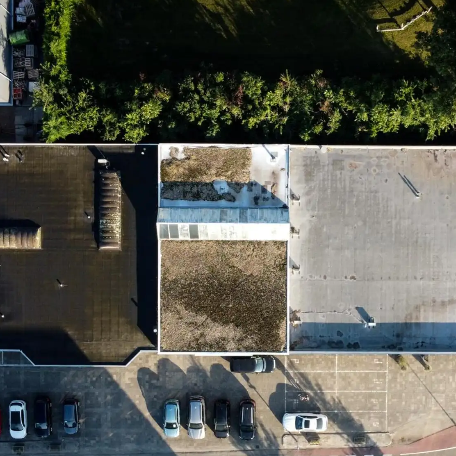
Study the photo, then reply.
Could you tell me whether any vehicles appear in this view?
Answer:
Yes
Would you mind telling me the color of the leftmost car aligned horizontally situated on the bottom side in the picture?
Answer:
black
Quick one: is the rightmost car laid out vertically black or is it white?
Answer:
black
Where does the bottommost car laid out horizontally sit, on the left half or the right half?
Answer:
right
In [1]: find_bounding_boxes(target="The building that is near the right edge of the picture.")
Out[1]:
[289,146,456,355]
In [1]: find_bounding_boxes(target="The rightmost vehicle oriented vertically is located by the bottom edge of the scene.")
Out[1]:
[237,399,257,440]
